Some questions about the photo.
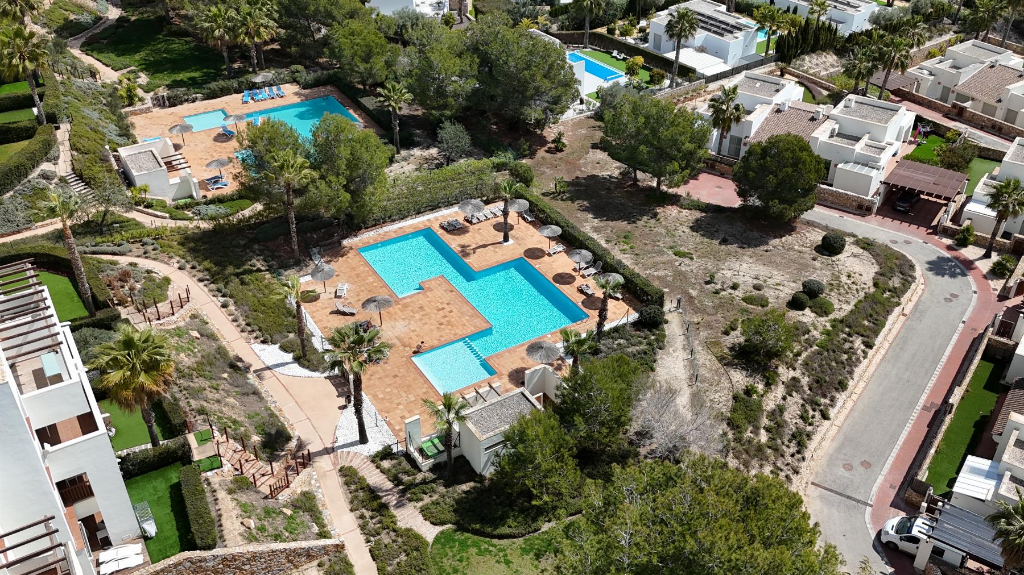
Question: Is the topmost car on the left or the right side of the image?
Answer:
right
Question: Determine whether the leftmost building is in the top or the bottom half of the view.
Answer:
bottom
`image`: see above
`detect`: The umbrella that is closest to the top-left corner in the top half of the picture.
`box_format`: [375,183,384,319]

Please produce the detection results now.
[166,121,192,144]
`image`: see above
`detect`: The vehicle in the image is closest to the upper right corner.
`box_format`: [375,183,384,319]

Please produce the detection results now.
[890,188,922,211]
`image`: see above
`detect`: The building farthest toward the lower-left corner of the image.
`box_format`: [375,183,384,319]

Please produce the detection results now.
[0,256,143,575]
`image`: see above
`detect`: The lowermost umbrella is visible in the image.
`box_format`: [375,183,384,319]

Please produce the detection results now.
[523,334,560,365]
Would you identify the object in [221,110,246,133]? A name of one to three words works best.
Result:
umbrella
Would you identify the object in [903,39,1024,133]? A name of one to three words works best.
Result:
house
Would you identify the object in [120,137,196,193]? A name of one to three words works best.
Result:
building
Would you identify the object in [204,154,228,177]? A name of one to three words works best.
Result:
umbrella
